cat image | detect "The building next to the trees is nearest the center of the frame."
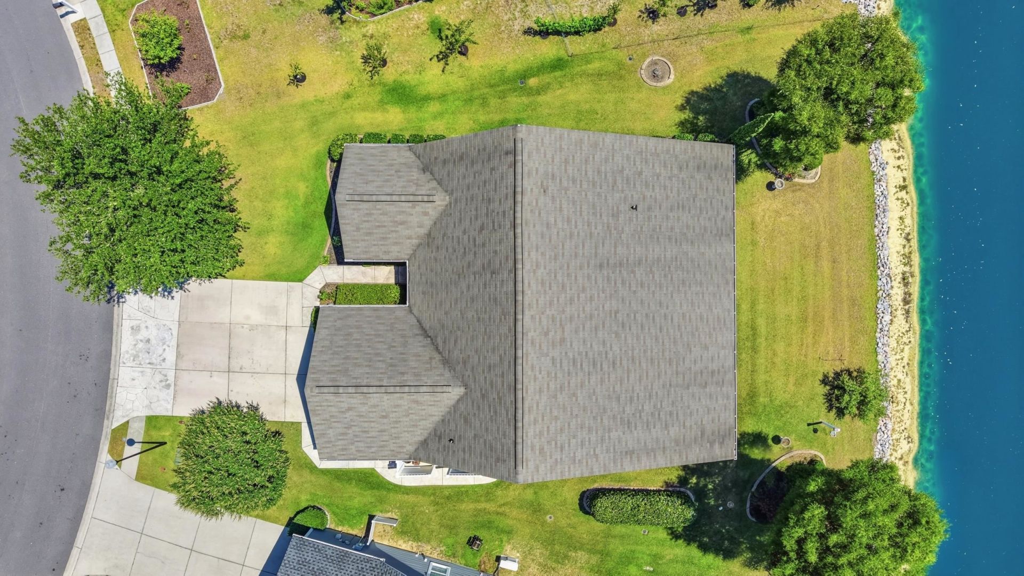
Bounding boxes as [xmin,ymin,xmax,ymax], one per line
[304,124,737,483]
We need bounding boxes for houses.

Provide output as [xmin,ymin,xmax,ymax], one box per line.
[275,529,494,576]
[304,124,737,483]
